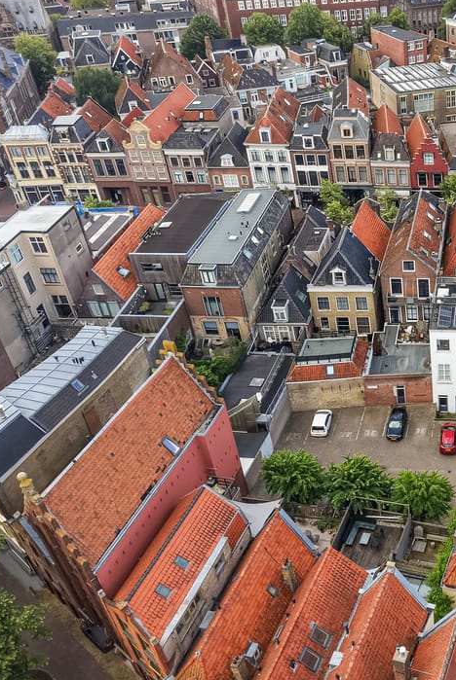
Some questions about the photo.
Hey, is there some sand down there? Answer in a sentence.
No, sand can't be seen anywhere here.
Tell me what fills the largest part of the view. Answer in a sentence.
Most of the picture is covered by buildings.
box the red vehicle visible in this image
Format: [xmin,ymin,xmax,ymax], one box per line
[438,424,456,457]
